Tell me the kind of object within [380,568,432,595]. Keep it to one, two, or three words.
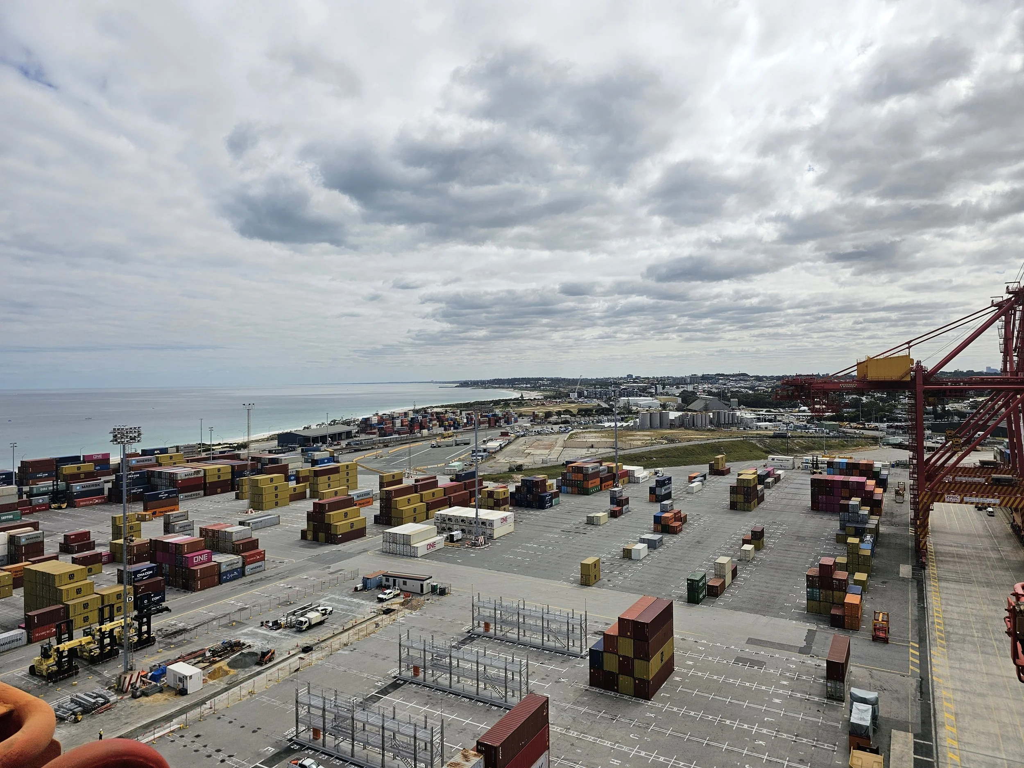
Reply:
building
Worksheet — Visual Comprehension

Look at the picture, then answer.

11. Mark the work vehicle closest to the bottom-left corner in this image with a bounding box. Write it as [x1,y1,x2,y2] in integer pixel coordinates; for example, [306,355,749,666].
[41,618,94,679]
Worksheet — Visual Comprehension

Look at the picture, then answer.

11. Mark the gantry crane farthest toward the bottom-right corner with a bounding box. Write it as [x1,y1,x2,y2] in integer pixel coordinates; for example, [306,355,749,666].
[774,277,1024,570]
